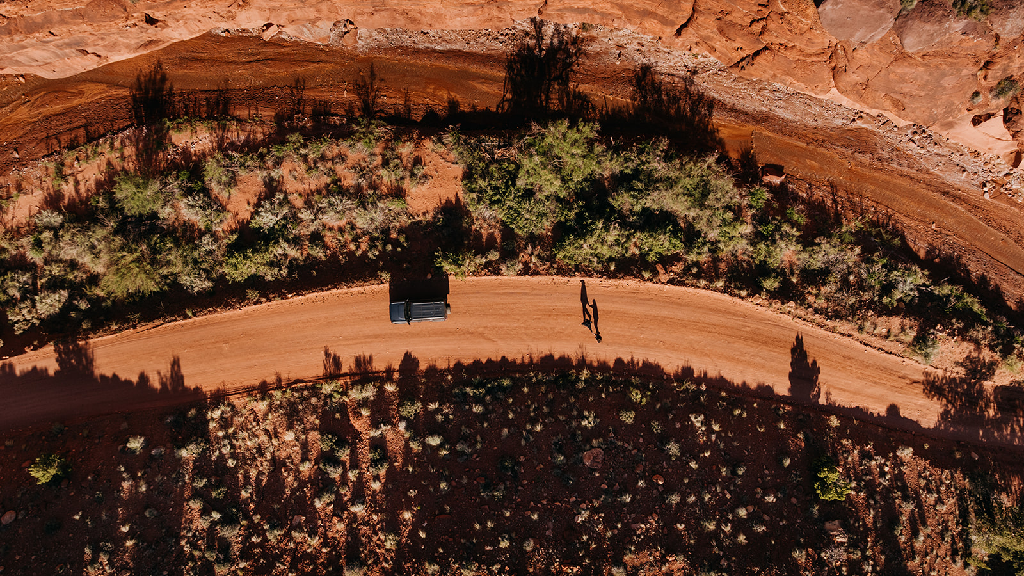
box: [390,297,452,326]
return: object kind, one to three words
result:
car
